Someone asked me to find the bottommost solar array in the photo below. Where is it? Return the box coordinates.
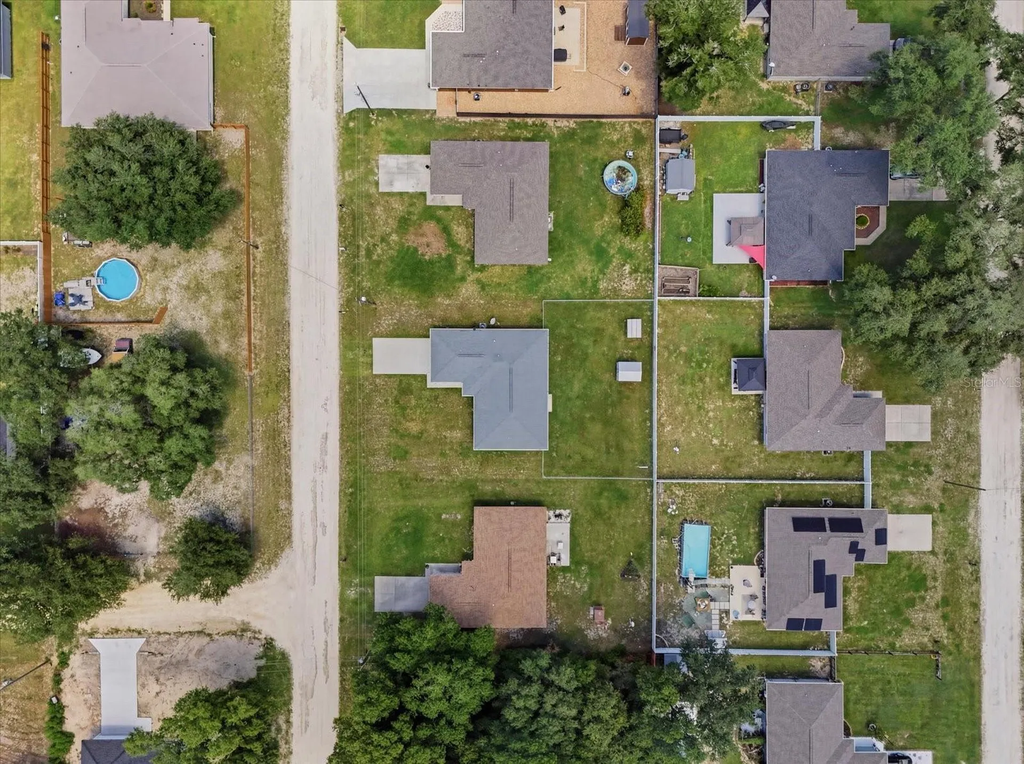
[786,618,823,630]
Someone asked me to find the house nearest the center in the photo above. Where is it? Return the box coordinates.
[429,328,549,451]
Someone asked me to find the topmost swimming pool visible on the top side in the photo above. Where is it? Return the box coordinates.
[602,160,637,196]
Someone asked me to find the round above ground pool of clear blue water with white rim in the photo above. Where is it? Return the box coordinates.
[96,258,144,303]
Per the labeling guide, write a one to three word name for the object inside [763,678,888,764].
house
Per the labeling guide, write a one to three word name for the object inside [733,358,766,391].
gazebo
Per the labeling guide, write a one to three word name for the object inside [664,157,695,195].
shed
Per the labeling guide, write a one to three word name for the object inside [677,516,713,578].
swimming pool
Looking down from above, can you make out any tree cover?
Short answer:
Yes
